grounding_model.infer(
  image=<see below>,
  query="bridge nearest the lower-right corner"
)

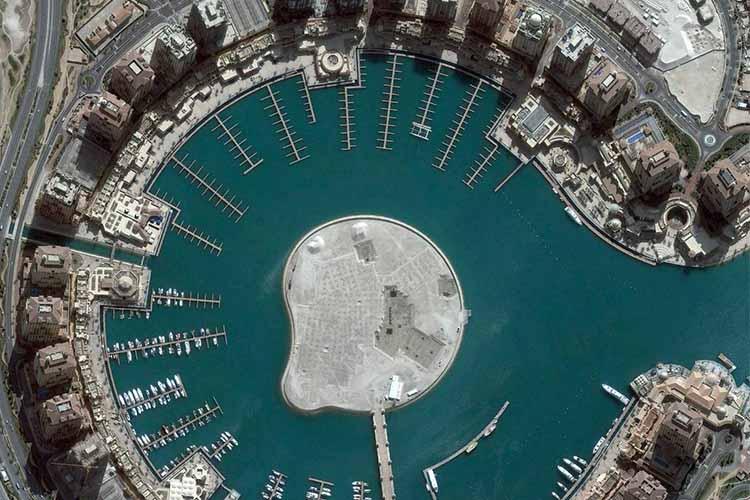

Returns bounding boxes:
[372,407,396,500]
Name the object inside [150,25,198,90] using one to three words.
building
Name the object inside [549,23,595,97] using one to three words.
building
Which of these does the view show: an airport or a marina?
marina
